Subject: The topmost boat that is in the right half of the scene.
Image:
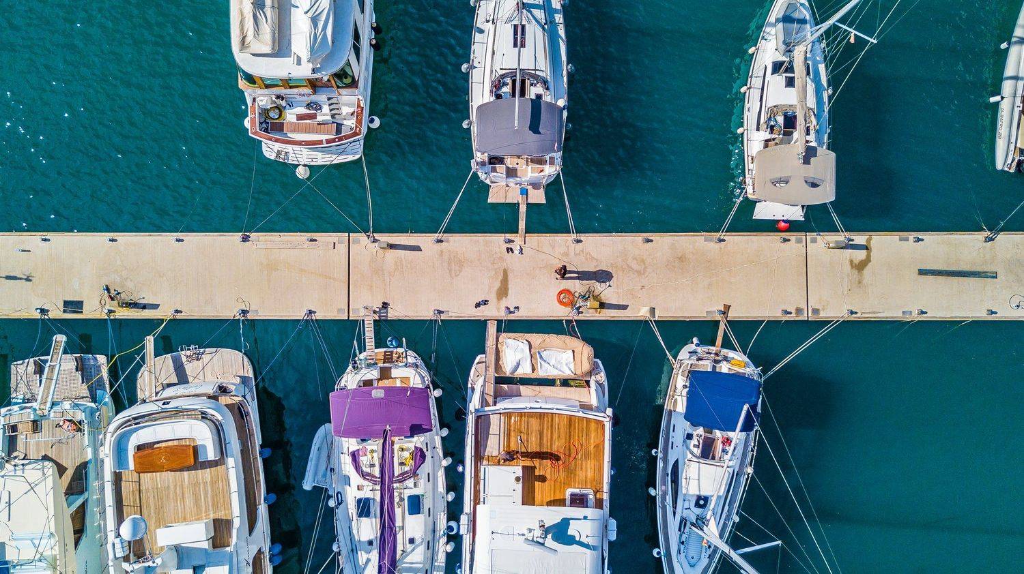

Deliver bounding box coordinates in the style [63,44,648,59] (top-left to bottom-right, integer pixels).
[773,0,816,59]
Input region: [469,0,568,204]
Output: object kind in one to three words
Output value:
boat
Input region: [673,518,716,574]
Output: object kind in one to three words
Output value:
boat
